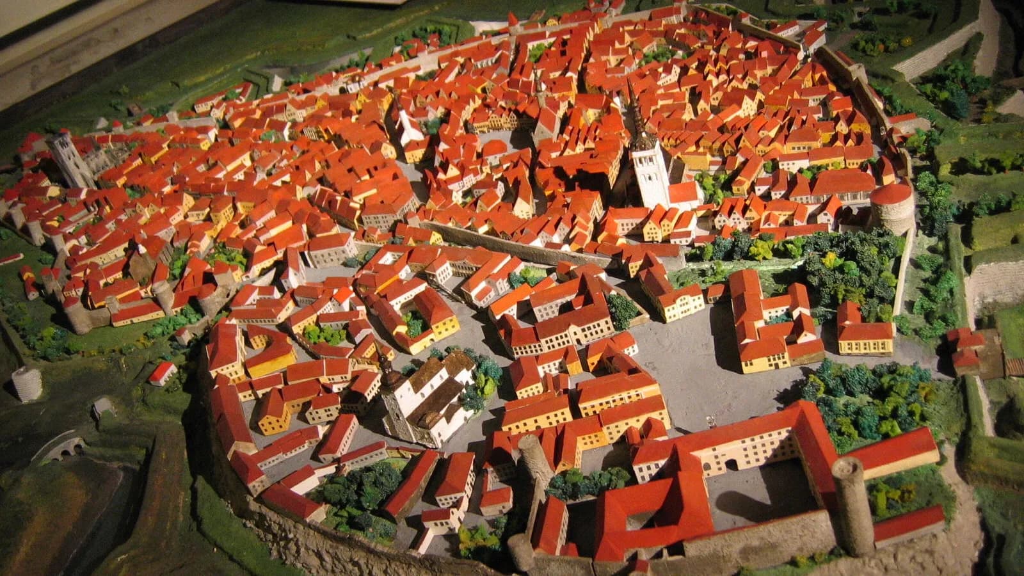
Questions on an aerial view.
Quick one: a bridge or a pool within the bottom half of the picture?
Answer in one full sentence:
Looking within the bottom half of the picture, you will find a bridge.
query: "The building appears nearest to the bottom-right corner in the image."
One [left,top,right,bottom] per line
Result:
[872,503,946,547]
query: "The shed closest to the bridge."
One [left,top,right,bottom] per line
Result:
[86,394,114,422]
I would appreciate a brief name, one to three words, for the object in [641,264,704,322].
house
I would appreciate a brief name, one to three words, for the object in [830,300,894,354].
building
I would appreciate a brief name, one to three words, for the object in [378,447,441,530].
building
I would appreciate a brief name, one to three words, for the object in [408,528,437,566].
house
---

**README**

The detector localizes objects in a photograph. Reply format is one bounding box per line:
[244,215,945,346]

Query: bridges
[37,437,92,470]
